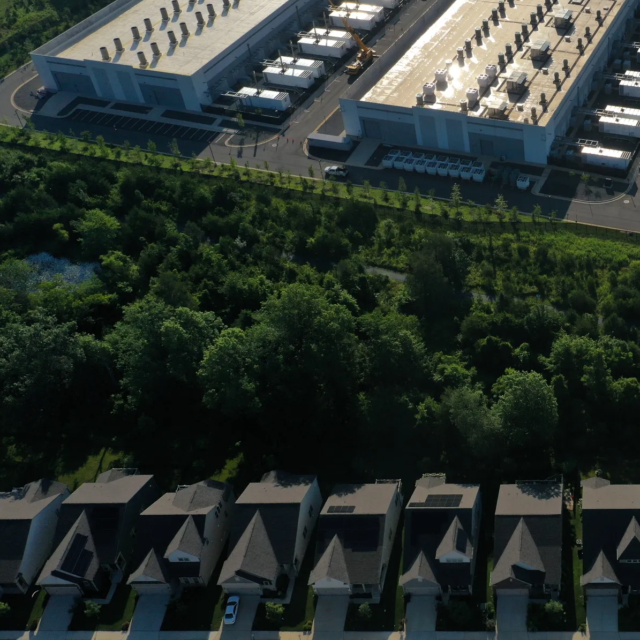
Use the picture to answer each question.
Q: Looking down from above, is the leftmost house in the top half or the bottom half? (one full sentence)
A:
The leftmost house sits in the bottom half of the picture.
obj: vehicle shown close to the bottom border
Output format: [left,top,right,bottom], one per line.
[221,597,242,624]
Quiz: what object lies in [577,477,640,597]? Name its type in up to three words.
house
